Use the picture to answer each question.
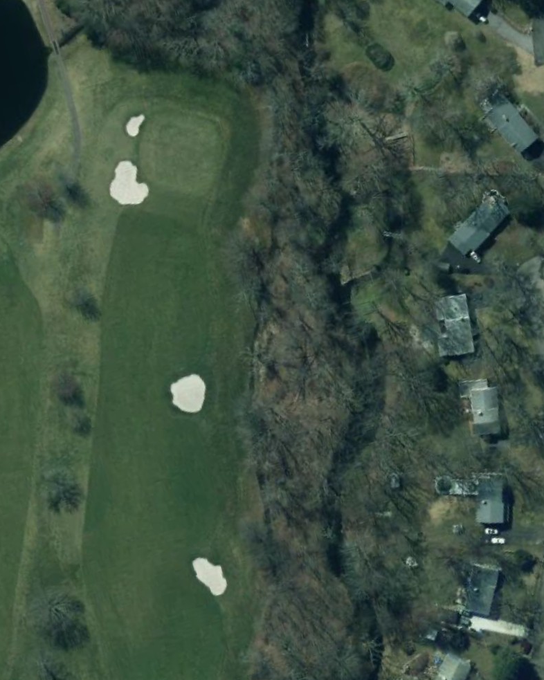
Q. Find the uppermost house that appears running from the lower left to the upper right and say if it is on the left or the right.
right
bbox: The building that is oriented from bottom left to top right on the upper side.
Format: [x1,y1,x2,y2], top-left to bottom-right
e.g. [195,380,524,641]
[450,199,512,256]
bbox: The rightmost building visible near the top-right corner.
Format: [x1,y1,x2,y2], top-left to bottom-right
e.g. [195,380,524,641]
[488,88,539,152]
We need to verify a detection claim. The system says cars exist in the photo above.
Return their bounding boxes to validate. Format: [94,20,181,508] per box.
[470,251,481,263]
[486,529,497,534]
[477,14,488,24]
[491,537,504,544]
[522,640,532,653]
